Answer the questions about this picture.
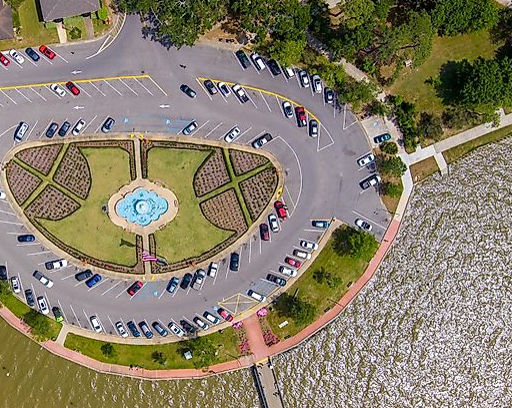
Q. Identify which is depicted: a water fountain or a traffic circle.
water fountain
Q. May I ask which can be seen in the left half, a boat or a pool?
pool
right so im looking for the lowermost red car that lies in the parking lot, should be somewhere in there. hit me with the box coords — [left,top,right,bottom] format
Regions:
[216,306,234,322]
